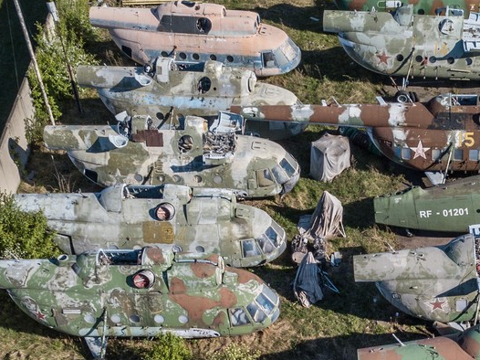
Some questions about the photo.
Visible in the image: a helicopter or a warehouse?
helicopter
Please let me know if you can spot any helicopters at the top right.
Yes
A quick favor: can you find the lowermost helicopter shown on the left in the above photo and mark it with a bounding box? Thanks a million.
[0,241,281,360]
